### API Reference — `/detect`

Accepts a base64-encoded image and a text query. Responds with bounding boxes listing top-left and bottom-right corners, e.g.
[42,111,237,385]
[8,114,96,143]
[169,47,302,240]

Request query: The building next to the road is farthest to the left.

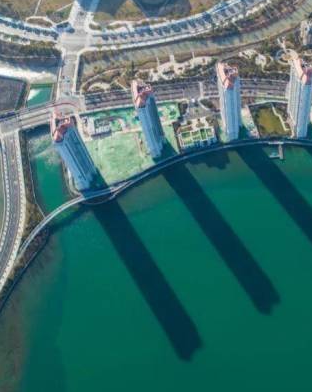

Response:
[48,109,92,192]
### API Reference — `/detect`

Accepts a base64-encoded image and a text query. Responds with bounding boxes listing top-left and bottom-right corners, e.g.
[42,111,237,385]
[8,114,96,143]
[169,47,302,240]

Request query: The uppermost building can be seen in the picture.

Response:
[296,19,312,45]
